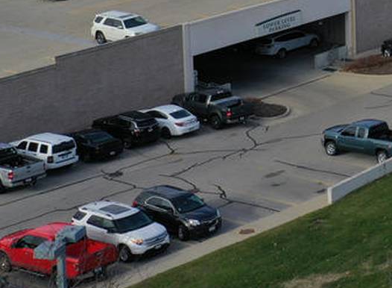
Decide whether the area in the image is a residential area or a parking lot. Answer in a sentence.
The area seen from above is a parking lot.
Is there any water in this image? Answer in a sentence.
No, the scene doesn't show any water.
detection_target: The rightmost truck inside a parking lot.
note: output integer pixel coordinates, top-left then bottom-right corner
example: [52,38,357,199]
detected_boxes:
[321,119,392,161]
